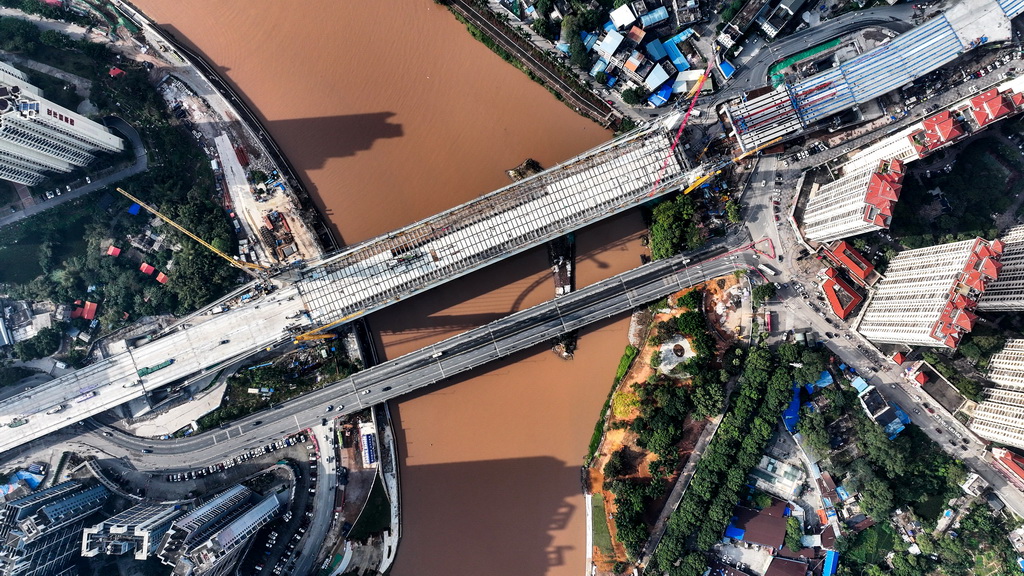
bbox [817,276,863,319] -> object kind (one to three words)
building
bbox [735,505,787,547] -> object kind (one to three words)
shed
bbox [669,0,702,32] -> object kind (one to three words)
house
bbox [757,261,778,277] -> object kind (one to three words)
vehicle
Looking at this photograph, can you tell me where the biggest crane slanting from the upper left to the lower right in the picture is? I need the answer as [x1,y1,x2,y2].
[117,187,266,281]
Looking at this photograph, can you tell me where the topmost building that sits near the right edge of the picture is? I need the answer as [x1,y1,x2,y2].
[842,72,1024,172]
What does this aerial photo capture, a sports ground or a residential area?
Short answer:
residential area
